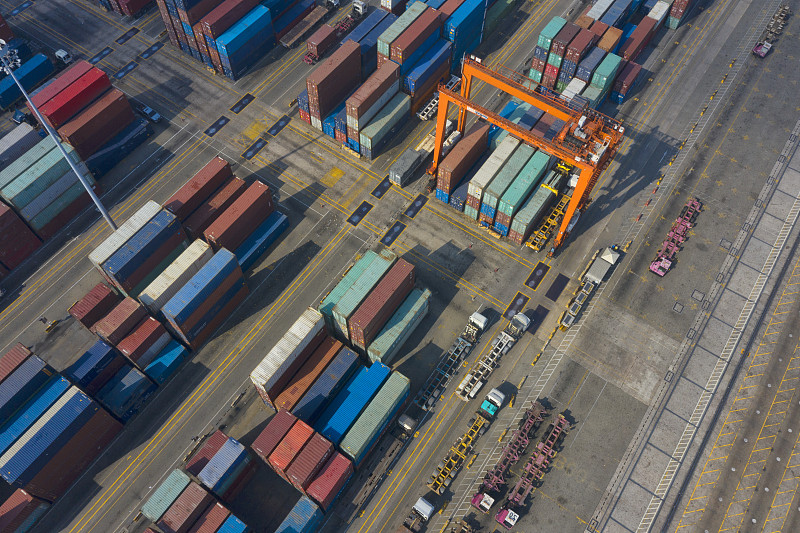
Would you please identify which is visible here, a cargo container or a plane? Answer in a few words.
cargo container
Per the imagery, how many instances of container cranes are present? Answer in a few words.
one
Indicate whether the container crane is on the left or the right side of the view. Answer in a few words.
right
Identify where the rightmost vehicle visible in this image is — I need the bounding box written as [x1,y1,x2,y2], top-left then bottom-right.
[749,2,795,63]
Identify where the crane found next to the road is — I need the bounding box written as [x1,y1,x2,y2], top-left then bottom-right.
[423,45,638,259]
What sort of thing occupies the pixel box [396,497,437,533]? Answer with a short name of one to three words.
truck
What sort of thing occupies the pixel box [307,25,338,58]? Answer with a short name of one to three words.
shipping container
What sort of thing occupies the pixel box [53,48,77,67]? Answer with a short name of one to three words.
vehicle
